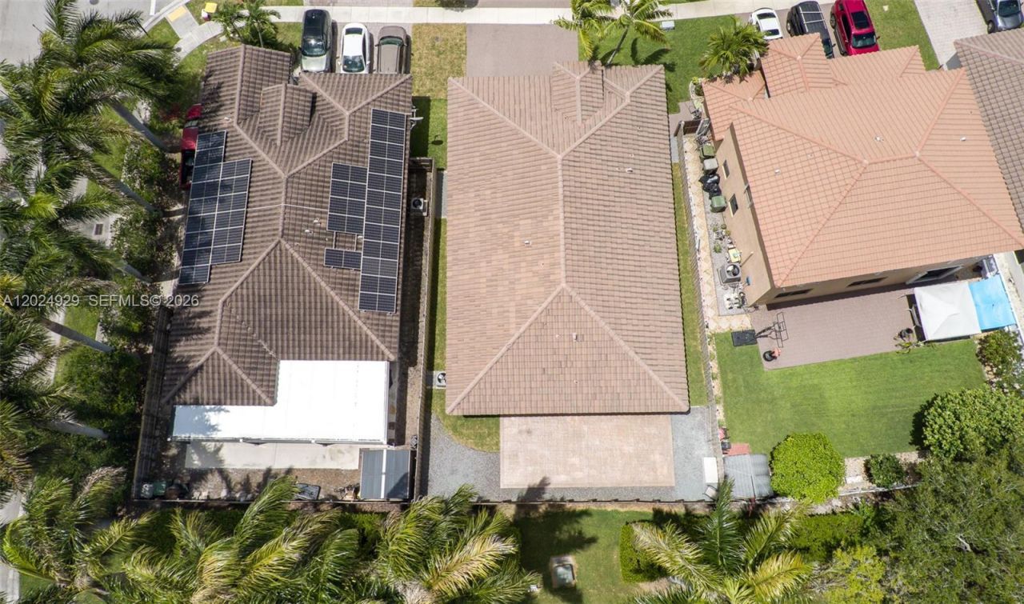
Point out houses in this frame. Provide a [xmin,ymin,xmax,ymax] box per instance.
[700,31,1024,303]
[443,59,692,417]
[161,43,413,406]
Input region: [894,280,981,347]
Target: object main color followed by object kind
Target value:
white gazebo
